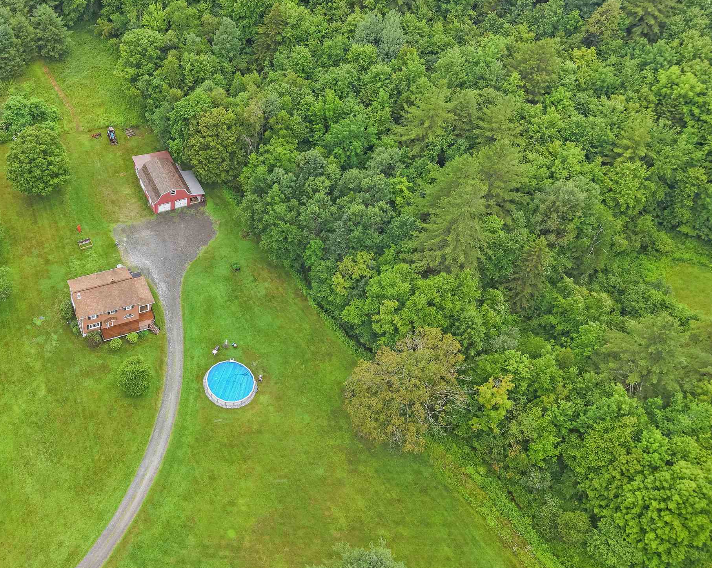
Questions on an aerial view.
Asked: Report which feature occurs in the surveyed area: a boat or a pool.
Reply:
pool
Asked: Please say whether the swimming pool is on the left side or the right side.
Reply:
left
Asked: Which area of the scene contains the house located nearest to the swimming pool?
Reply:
left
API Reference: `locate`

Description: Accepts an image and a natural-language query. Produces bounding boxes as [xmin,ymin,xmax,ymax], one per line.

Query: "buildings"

[68,267,160,342]
[132,151,205,214]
